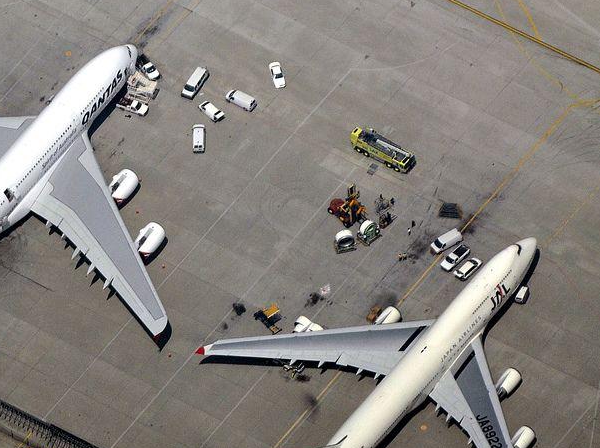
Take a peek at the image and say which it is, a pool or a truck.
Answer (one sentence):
I can see a truck in this picture.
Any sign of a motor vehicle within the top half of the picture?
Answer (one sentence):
Yes, you'll find a motor vehicle within the top half of the picture.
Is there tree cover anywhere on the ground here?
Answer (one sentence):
No, there is no tree cover in the image.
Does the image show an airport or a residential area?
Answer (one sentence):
The picture captures an airport.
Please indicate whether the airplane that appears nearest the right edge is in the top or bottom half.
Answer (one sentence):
The bottom half of the photo is where the airplane that appears nearest the right edge is.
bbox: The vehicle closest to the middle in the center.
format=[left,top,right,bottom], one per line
[328,197,373,224]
